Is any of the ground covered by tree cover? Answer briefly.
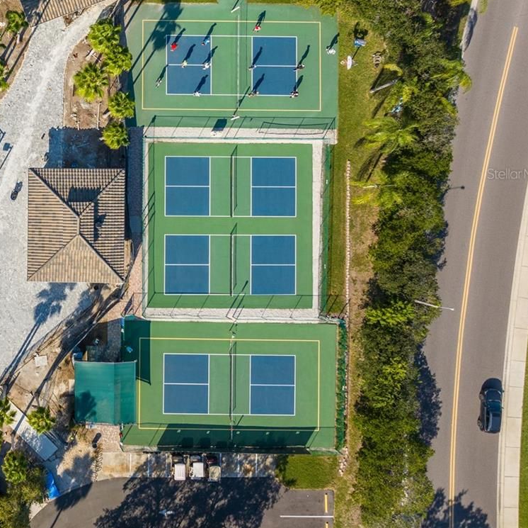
Yes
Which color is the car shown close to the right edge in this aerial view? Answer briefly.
black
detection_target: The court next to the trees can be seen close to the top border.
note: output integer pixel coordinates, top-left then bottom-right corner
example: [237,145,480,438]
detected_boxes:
[127,0,338,128]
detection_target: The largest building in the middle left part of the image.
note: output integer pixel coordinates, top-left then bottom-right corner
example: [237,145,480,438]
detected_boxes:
[27,168,126,283]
